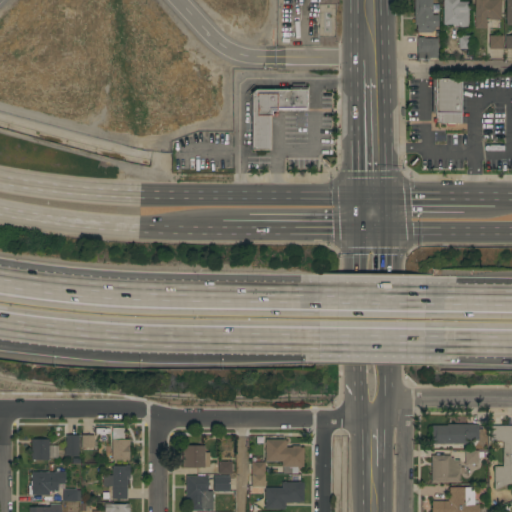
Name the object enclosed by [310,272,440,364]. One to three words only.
overpass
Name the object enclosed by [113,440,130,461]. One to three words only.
house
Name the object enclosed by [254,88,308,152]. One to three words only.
building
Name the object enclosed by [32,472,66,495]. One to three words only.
house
